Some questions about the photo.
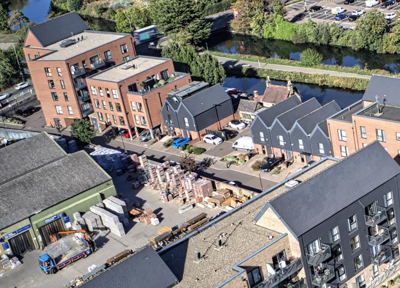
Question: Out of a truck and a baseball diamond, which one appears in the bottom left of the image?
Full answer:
Looking in the bottom left of the image, you will find a truck.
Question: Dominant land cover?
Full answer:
The bulk of the photo consists of buildings.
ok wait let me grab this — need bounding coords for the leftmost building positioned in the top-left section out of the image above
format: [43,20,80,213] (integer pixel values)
[22,11,137,124]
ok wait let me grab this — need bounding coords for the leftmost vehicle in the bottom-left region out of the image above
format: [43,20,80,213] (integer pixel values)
[33,218,100,265]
